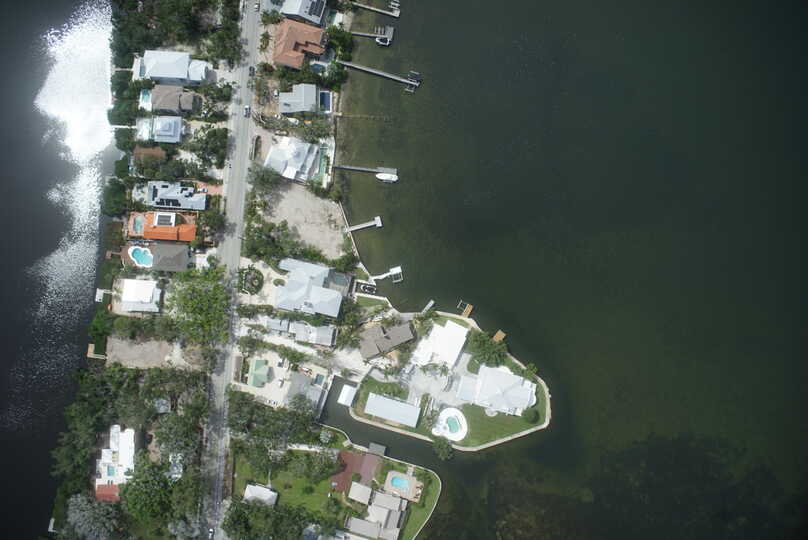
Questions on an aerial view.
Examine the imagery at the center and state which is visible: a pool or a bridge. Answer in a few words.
pool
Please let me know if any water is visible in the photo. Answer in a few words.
Yes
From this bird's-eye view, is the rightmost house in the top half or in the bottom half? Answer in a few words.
bottom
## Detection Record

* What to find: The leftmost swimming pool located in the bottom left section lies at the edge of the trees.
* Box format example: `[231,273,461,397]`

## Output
[96,459,133,484]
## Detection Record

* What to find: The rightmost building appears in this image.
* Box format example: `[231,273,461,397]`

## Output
[473,365,535,417]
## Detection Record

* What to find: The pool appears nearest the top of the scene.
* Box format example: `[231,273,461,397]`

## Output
[327,9,343,27]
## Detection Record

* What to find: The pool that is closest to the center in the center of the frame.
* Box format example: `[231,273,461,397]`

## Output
[323,267,357,298]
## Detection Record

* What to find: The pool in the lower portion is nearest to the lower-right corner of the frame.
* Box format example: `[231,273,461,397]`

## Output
[432,407,466,441]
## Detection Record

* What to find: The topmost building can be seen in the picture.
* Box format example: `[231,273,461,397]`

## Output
[281,0,334,29]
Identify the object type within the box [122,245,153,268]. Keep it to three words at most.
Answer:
swimming pool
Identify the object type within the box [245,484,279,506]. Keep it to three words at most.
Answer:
house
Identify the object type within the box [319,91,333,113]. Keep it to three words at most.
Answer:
swimming pool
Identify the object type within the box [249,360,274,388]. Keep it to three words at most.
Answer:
building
